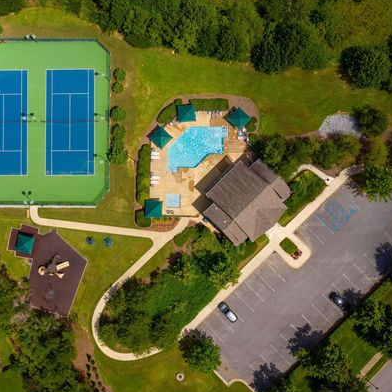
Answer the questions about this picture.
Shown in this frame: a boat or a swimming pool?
swimming pool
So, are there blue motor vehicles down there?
No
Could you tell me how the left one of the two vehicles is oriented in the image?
diagonally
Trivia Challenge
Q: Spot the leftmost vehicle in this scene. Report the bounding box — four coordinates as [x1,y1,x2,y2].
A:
[216,300,239,323]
